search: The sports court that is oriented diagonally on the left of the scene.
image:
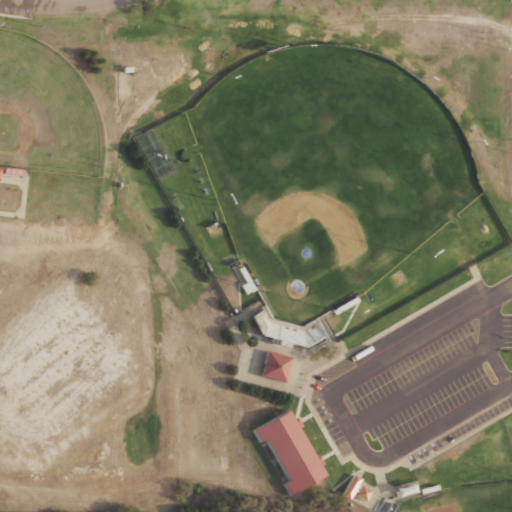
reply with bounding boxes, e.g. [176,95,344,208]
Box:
[134,129,178,180]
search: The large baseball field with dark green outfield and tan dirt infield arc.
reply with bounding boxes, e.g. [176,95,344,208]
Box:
[188,44,482,326]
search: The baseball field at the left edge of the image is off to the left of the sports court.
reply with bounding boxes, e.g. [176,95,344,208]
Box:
[0,28,106,179]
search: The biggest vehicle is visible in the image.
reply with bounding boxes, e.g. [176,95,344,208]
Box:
[350,346,376,362]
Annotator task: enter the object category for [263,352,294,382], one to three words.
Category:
building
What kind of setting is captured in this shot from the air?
sports ground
